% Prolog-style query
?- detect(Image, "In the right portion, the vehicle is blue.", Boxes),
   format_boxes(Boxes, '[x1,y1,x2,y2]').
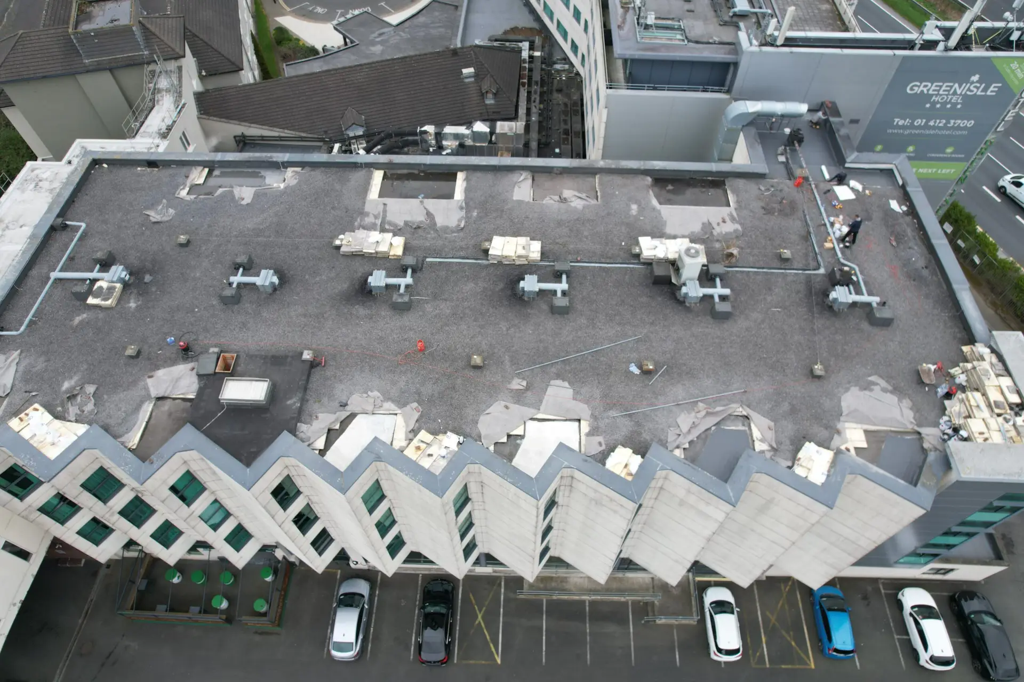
[807,586,854,665]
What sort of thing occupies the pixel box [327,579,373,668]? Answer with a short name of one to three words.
car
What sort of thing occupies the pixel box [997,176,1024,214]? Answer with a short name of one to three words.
vehicle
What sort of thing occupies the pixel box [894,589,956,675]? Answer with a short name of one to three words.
car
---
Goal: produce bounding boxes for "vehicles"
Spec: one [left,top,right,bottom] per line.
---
[417,579,456,671]
[950,592,1024,682]
[327,579,373,668]
[894,589,956,675]
[807,586,854,665]
[997,176,1024,214]
[700,586,742,668]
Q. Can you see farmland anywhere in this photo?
No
